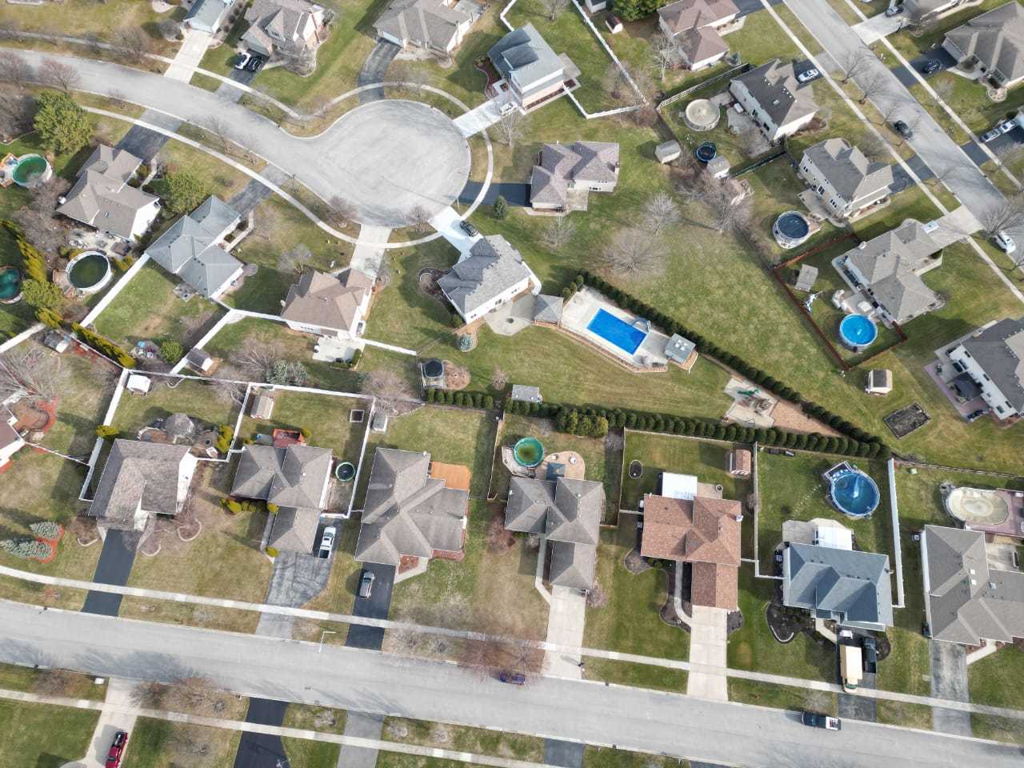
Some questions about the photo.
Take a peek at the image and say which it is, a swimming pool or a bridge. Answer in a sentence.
The image shows a swimming pool.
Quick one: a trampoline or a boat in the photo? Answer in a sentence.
There is a trampoline in the scene.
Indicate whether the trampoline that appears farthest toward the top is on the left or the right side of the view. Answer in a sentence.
The trampoline that appears farthest toward the top appears in the right half of the scene.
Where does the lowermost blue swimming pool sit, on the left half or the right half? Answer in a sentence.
You can find the lowermost blue swimming pool on the right side of the picture.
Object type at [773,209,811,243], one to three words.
swimming pool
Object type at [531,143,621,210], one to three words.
house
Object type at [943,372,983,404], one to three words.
gazebo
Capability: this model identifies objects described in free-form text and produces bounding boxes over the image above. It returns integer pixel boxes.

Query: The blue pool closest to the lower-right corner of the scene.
[827,467,879,515]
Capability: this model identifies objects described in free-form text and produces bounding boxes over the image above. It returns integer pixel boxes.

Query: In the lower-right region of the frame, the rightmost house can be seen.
[916,525,1024,647]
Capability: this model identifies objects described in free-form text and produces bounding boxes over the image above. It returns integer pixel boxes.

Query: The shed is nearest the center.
[513,384,543,403]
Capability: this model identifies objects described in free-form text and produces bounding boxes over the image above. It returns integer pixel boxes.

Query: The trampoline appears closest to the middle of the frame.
[420,359,443,381]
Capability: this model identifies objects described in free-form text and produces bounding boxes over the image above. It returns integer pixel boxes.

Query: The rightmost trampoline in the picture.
[696,137,718,160]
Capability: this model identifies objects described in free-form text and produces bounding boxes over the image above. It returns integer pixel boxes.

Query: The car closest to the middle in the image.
[459,217,480,238]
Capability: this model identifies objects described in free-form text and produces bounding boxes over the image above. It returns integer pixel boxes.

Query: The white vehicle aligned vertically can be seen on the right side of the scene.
[844,640,866,692]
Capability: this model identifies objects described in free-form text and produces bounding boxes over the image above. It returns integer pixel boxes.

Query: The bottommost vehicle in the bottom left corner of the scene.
[103,732,126,768]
